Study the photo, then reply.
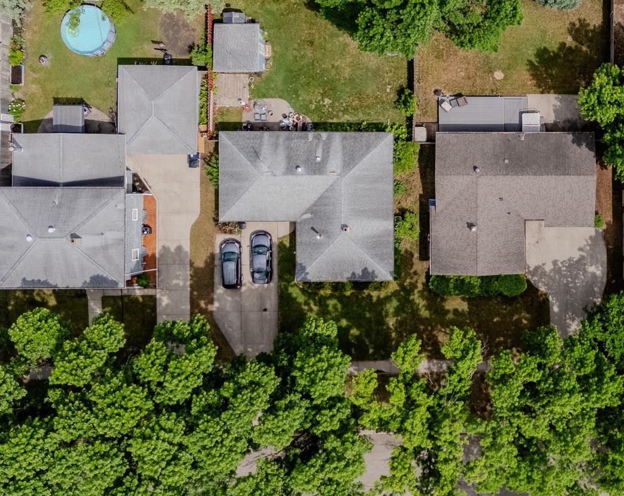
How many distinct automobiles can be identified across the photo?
two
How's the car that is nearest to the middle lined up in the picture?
up and down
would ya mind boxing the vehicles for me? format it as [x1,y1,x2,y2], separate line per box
[244,231,272,286]
[214,238,242,291]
